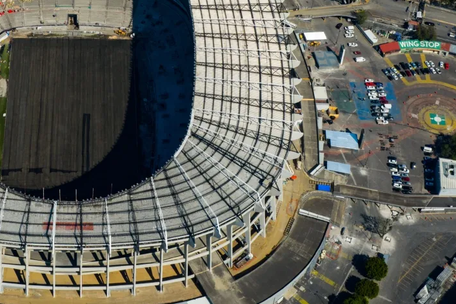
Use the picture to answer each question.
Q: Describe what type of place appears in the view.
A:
sports ground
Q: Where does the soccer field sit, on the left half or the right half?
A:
left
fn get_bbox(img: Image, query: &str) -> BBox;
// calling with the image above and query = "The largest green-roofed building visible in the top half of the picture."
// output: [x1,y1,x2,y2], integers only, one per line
[397,39,441,56]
